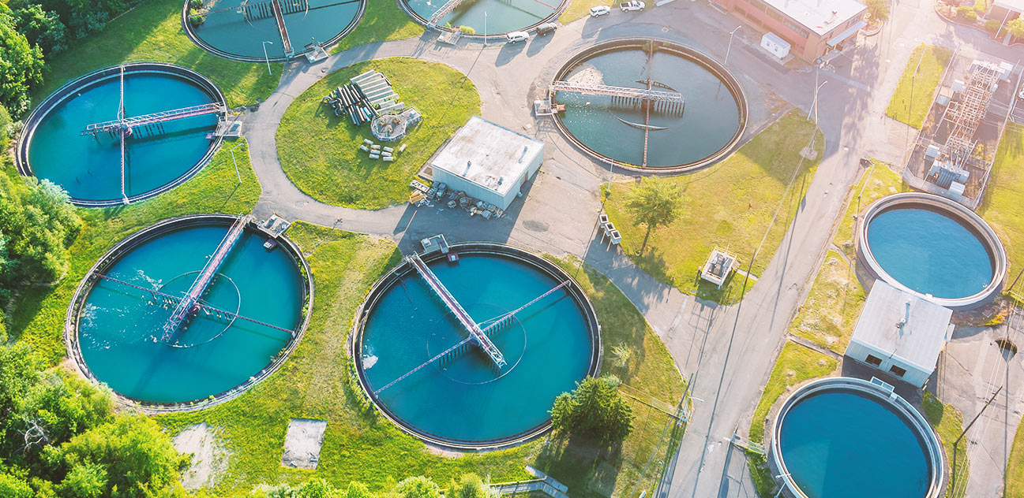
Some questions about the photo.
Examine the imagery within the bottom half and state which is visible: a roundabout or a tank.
tank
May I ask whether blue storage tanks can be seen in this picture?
Yes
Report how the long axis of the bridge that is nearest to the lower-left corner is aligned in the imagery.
diagonally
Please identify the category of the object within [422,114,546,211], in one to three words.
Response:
building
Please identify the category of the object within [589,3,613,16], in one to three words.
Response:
vehicle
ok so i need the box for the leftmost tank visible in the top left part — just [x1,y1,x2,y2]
[19,62,241,207]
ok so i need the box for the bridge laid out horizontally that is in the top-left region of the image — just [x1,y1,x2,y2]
[82,98,226,133]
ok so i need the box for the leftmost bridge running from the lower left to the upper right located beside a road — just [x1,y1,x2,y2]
[161,213,253,341]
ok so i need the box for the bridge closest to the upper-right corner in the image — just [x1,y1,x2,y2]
[548,78,686,105]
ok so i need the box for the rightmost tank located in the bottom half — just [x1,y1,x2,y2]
[354,229,599,450]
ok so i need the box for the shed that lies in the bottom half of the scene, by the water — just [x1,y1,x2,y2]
[844,279,954,387]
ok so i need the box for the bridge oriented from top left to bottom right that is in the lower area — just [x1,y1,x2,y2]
[406,251,506,370]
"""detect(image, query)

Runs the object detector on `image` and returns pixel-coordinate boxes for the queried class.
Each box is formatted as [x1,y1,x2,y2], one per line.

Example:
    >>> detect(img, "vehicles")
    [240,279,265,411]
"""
[507,30,531,42]
[619,0,646,11]
[589,3,613,16]
[534,21,558,34]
